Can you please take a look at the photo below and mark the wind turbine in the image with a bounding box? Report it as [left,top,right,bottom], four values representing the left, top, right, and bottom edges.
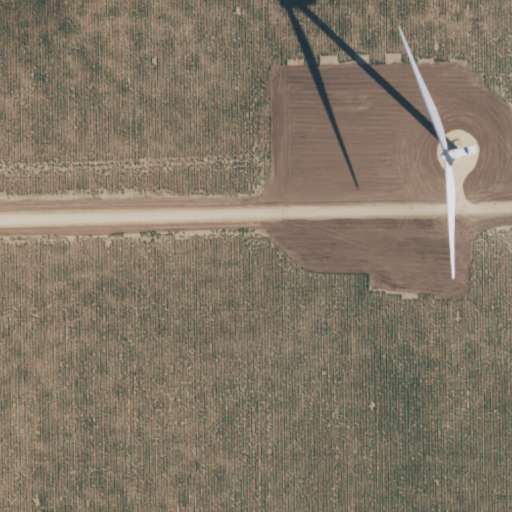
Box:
[400,27,477,280]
